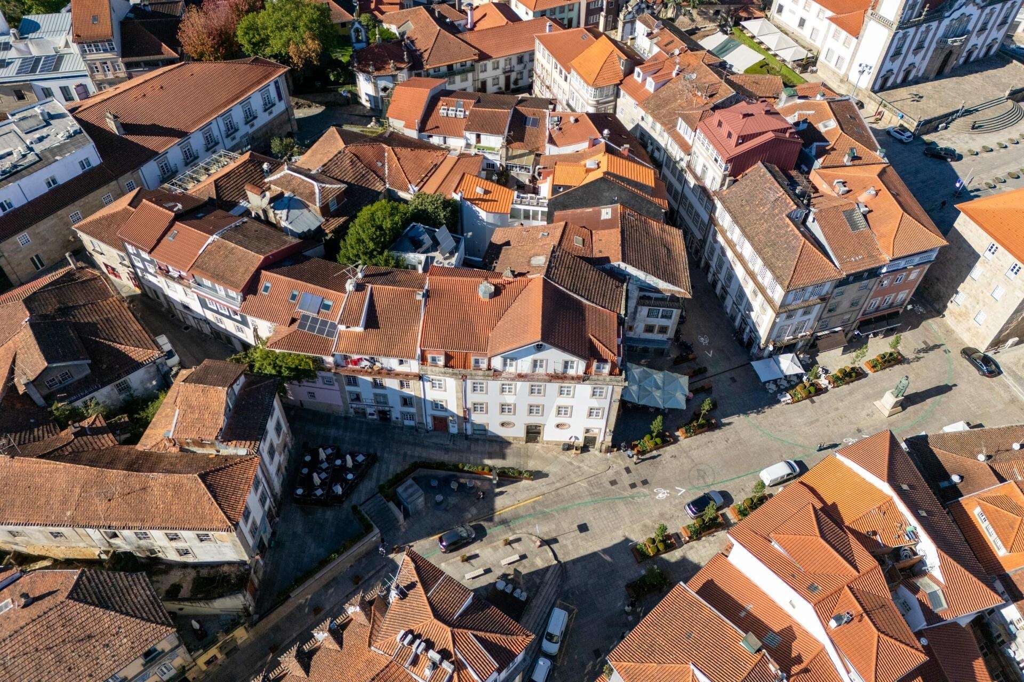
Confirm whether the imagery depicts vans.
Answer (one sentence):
Yes, the photo shows a van.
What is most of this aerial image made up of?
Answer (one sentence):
The largest share of the image is taken up by buildings.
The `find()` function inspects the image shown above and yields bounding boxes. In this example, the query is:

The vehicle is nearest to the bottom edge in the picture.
[525,656,555,682]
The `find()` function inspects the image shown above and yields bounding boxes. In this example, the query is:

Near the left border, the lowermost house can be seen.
[0,567,208,682]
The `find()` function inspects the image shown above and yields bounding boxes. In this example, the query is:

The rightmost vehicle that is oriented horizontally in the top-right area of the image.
[928,146,958,160]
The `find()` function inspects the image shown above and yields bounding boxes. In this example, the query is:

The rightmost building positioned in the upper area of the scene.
[923,187,1024,339]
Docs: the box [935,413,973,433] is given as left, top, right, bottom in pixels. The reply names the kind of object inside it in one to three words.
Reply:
umbrella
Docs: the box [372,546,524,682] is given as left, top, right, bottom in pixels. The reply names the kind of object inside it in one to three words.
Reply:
house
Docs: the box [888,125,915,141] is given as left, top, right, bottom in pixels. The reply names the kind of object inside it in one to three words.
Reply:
car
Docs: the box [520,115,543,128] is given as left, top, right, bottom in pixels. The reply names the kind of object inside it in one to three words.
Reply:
solar panel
